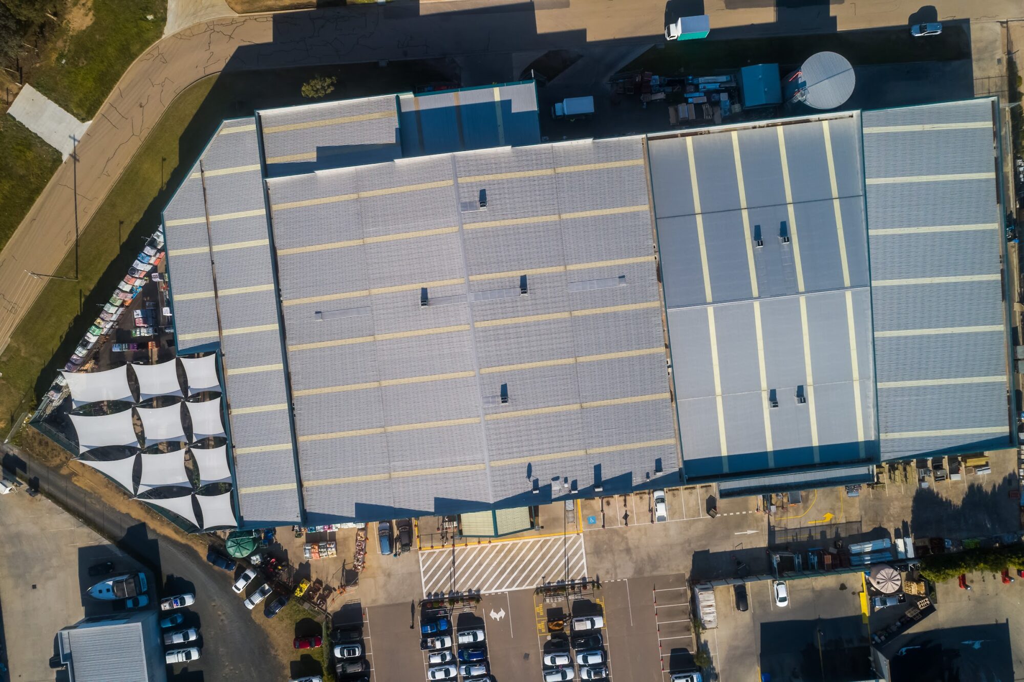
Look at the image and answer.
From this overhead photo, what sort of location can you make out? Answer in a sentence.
What you see here is an industrial area.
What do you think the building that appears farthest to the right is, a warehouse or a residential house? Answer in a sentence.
I'd say the building that appears farthest to the right is a warehouse.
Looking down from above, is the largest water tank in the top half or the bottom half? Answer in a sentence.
The largest water tank sits in the top half of the picture.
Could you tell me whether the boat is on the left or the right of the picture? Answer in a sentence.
The boat is on the left side of the image.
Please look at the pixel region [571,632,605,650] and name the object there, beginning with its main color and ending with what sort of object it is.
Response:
black car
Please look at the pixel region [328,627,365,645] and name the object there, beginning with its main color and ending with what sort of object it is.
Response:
black vehicle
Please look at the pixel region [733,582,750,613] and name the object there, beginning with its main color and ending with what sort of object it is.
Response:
black car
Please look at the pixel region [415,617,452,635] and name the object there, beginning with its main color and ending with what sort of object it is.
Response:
blue vehicle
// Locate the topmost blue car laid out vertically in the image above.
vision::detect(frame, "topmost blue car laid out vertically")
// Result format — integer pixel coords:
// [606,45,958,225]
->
[377,521,393,555]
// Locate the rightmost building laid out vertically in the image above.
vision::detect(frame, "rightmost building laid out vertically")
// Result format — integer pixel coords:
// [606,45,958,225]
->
[863,97,1018,463]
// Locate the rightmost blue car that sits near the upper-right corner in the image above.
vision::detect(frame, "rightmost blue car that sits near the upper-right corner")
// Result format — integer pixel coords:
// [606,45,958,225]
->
[908,21,943,39]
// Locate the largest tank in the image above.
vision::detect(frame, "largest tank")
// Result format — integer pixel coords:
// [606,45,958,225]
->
[776,52,855,119]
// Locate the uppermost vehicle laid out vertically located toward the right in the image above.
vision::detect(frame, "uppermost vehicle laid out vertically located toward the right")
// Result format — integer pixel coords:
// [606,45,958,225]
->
[652,489,668,523]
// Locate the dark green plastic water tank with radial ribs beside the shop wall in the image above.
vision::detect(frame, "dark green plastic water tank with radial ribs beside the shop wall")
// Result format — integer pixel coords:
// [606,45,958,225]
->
[228,528,262,558]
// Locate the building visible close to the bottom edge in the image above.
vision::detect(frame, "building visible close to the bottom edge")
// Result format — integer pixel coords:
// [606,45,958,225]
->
[58,610,166,682]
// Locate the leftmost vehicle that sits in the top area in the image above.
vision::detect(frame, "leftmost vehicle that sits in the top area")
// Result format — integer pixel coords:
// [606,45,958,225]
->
[553,94,596,118]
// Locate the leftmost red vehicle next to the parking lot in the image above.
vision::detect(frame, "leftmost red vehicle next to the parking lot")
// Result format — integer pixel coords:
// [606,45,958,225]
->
[291,634,325,651]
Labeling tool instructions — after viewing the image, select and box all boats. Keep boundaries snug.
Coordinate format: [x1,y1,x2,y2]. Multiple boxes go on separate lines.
[85,575,150,598]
